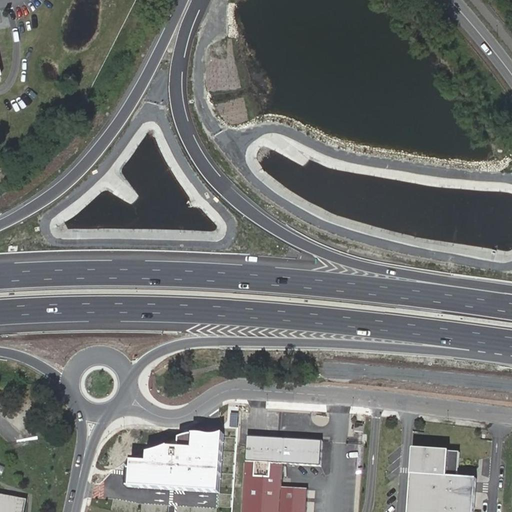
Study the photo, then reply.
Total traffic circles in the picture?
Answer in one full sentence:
In total, there is 1 traffic circle in the scene.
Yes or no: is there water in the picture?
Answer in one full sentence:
Yes, the picture does contain water.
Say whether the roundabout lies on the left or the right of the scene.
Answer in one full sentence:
It is on the left.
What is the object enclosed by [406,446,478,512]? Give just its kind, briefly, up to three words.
building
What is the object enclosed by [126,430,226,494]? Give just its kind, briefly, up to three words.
building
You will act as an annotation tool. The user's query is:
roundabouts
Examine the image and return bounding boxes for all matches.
[61,346,138,422]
